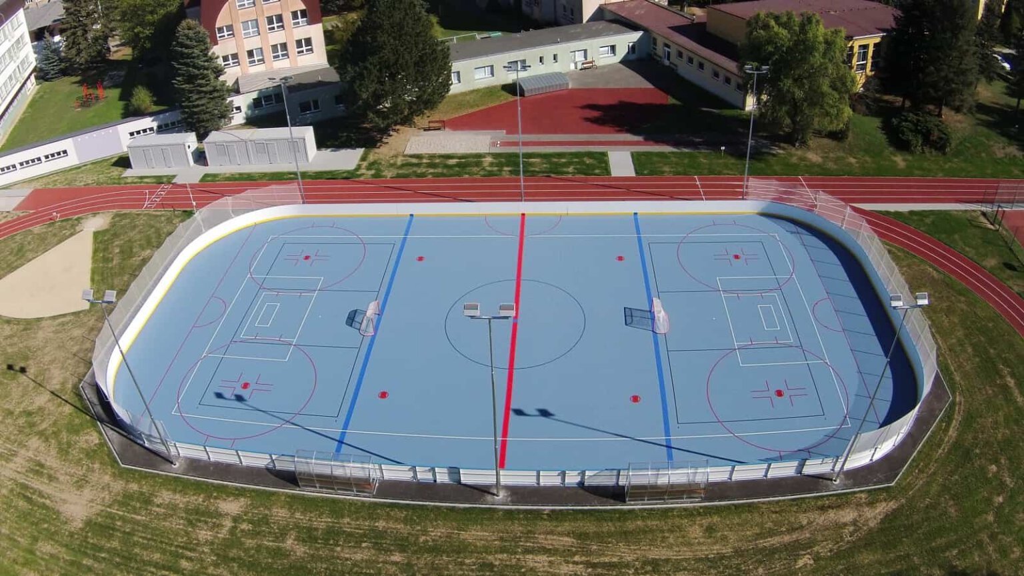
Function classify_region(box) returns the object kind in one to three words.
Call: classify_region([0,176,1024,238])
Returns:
running track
